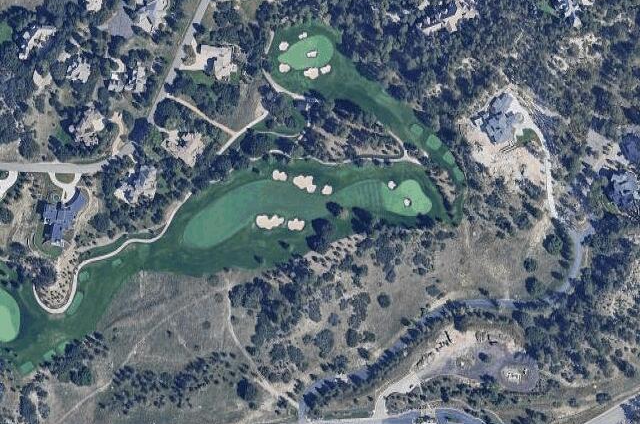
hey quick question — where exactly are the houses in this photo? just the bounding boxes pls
[66,59,93,86]
[204,41,237,78]
[86,0,103,12]
[122,164,159,203]
[421,6,463,35]
[41,191,91,240]
[485,90,521,147]
[608,171,640,205]
[108,73,123,93]
[136,0,172,34]
[72,105,106,145]
[21,23,57,59]
[161,128,208,169]
[558,0,593,20]
[128,63,148,92]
